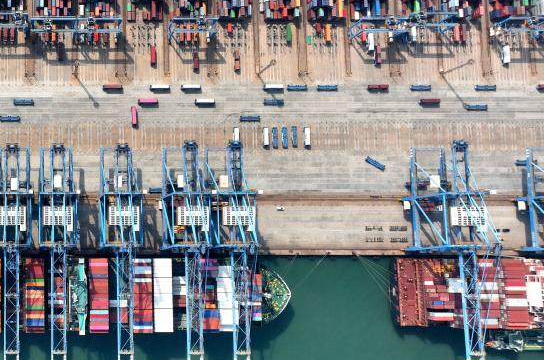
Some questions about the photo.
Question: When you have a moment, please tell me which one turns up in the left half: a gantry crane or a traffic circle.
gantry crane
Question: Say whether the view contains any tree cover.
No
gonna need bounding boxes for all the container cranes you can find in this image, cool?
[165,17,217,44]
[92,139,147,360]
[0,140,35,360]
[154,139,216,360]
[398,10,461,37]
[194,139,262,360]
[349,16,410,43]
[398,139,505,360]
[513,147,544,252]
[0,11,30,38]
[31,16,77,43]
[34,140,82,360]
[75,16,122,43]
